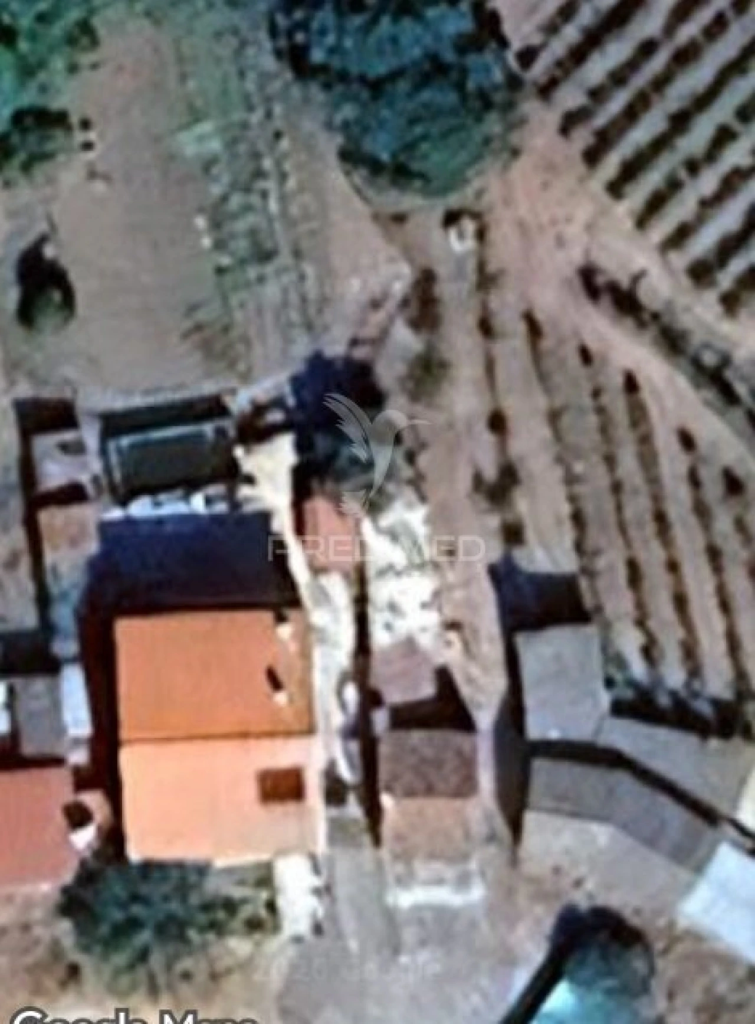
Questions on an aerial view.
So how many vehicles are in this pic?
2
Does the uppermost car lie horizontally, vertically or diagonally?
vertically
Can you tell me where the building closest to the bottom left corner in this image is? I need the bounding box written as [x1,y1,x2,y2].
[0,768,94,896]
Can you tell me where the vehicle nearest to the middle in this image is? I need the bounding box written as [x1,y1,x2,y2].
[333,676,362,732]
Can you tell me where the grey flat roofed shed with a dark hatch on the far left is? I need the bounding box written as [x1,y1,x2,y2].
[32,431,99,491]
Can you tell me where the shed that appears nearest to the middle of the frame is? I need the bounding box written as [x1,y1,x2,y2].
[304,497,360,571]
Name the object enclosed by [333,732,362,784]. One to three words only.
car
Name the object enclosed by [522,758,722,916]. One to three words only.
barn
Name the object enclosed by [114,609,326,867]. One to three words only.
house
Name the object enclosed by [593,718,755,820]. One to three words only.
shed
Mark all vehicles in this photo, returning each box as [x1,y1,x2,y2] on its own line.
[333,732,362,784]
[333,676,362,732]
